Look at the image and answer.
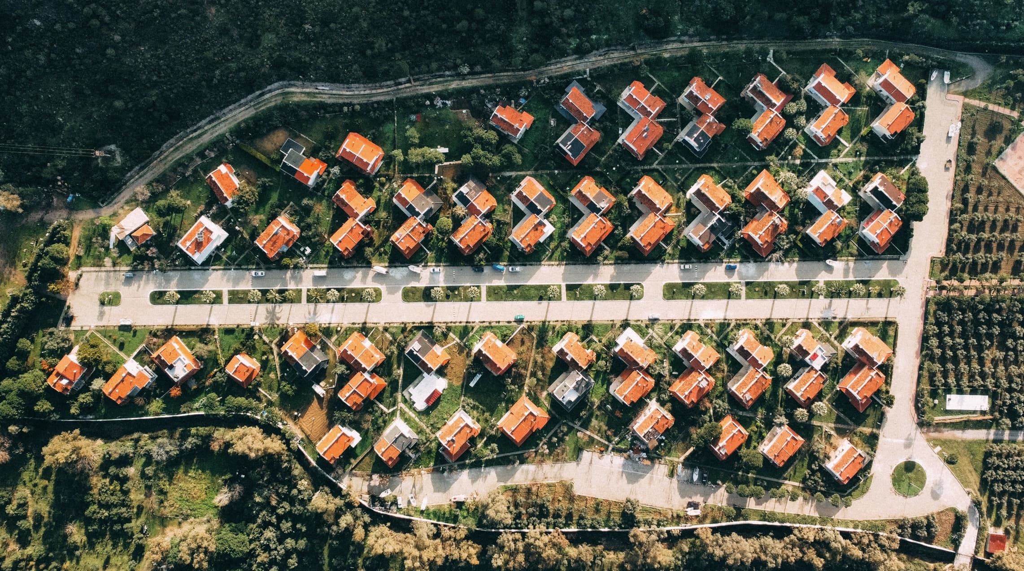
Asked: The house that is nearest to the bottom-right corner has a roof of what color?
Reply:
red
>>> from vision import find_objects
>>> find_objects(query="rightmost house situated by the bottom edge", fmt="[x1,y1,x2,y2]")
[983,527,1007,553]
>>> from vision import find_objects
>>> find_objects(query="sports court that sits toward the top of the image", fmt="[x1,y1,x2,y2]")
[995,129,1024,191]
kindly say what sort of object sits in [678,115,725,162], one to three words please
house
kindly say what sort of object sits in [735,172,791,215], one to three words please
house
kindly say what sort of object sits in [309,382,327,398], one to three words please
camper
